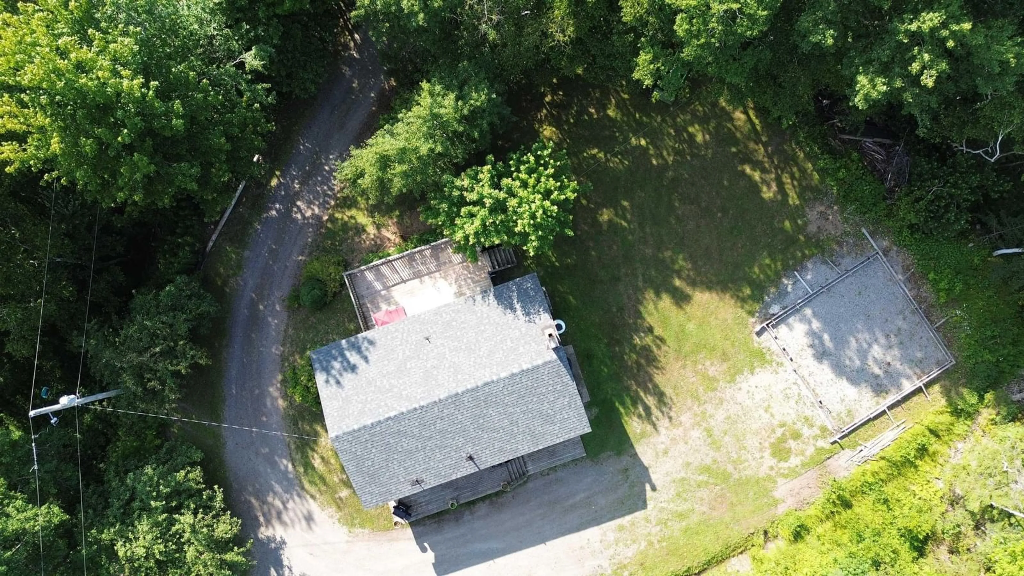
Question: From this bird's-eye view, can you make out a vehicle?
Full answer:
No, I can't see a single vehicle in this photo.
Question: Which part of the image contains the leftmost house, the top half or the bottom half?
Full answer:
The leftmost house is in the bottom half of the image.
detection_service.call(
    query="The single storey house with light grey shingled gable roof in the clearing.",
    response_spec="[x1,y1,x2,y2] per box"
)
[309,272,591,509]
